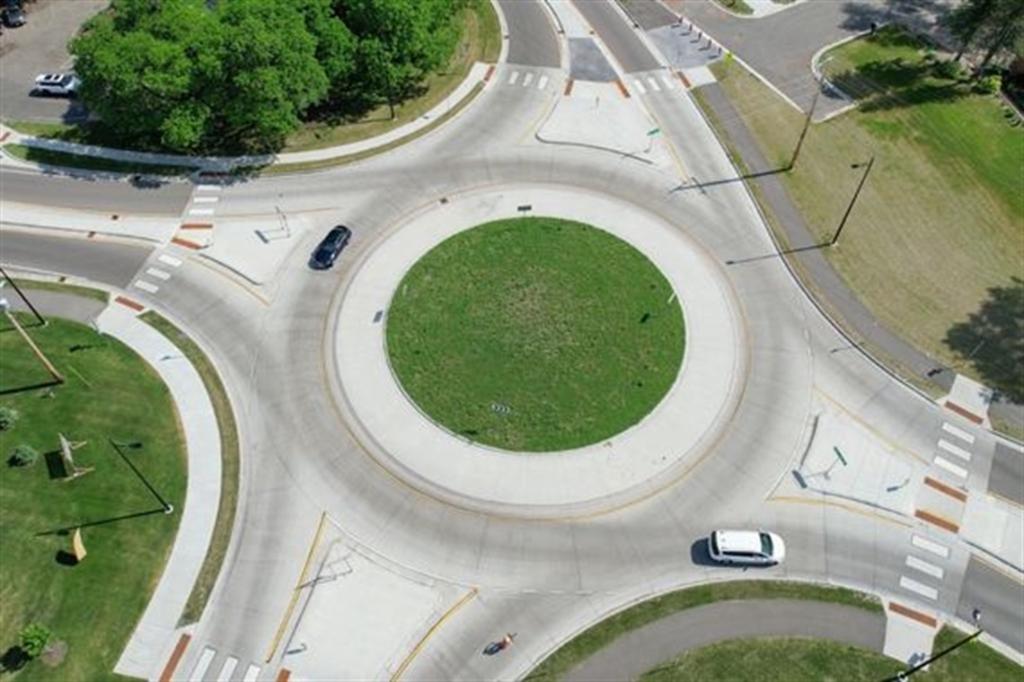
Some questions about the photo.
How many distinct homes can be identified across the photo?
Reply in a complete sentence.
The count of homes is 0.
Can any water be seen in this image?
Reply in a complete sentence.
No, the picture contains no water.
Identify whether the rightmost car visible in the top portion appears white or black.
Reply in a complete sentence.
The rightmost car visible in the top portion is black.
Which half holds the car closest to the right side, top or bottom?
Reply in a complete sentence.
The bottom half of the photo is where the car closest to the right side is.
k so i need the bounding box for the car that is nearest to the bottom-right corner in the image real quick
[709,533,791,573]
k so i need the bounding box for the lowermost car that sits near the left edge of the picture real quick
[31,72,82,100]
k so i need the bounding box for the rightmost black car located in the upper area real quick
[309,225,351,270]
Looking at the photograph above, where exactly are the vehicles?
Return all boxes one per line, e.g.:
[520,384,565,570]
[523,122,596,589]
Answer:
[31,72,82,100]
[709,533,791,573]
[0,0,27,31]
[309,225,351,270]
